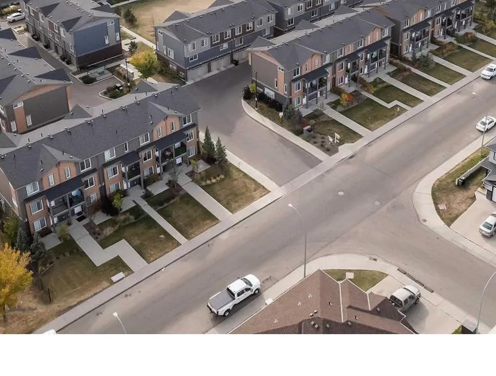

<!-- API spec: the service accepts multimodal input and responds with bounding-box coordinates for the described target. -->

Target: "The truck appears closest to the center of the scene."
[207,271,264,316]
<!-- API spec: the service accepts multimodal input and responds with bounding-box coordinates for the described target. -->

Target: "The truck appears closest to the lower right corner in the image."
[385,283,421,308]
